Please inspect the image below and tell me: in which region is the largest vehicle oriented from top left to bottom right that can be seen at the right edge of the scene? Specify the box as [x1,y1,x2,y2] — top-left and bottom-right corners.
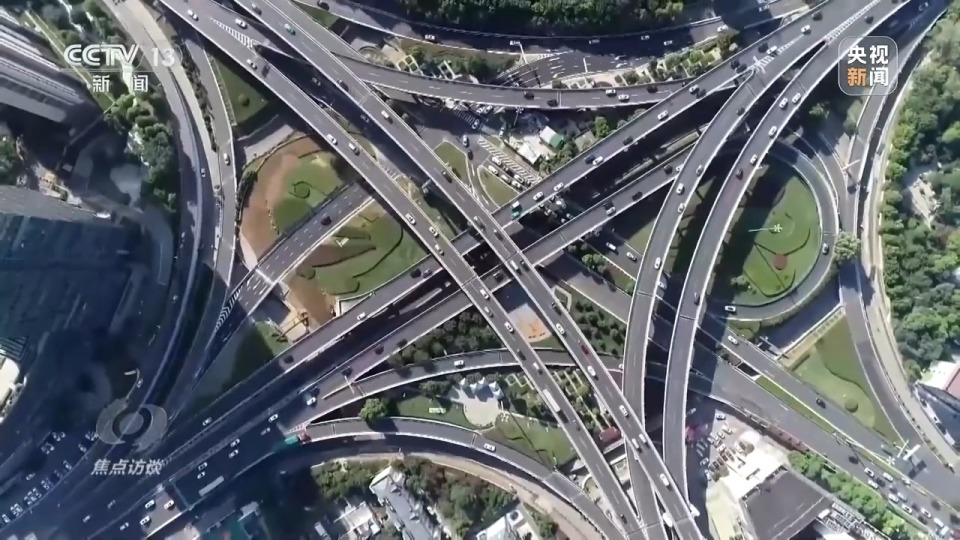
[935,524,954,538]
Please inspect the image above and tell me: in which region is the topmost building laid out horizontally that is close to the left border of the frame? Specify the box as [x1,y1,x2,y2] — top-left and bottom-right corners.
[0,102,102,152]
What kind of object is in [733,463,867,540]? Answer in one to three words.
building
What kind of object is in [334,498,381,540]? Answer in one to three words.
building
